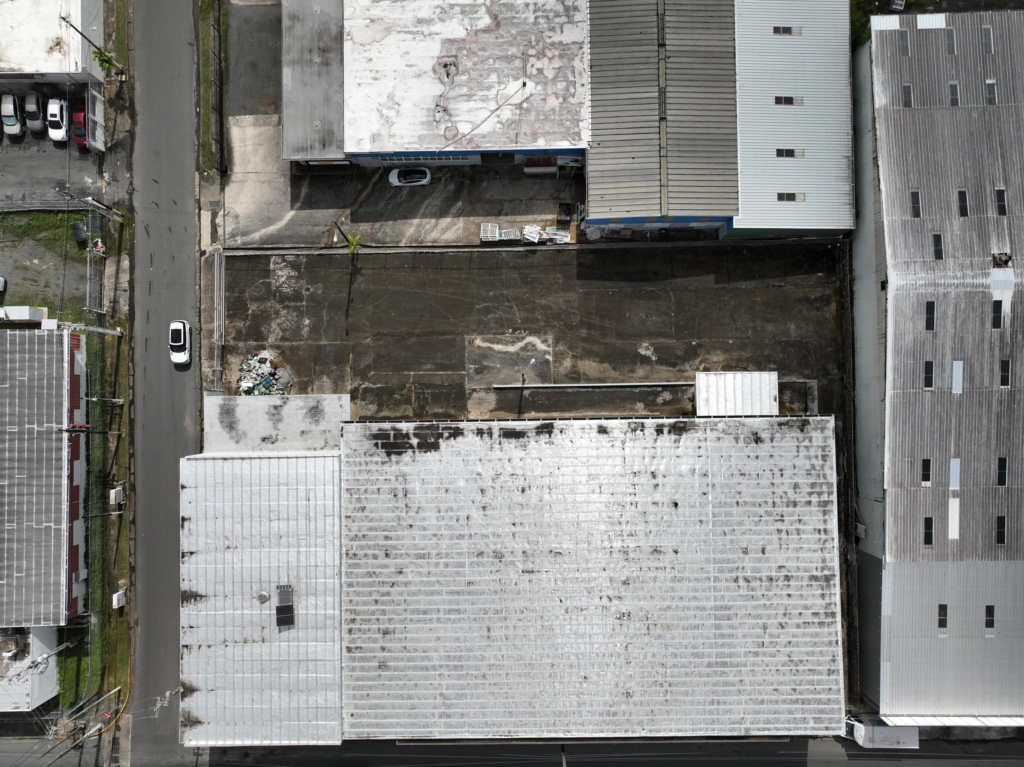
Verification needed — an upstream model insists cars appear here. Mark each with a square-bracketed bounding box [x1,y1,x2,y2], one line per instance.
[0,94,27,137]
[166,321,193,366]
[386,165,432,188]
[0,276,5,293]
[21,91,45,132]
[43,96,70,141]
[67,104,91,147]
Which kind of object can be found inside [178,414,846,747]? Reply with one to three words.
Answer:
warehouse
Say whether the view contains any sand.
No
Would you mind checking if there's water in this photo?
No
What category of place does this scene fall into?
industrial area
